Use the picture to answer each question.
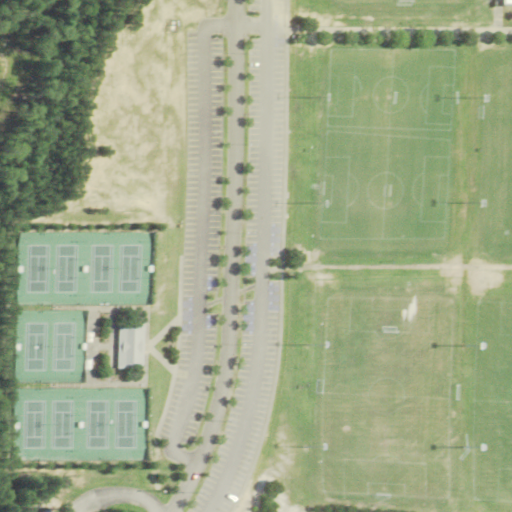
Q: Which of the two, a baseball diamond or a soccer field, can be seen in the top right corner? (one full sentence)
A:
It is a soccer field that can be seen in the top right corner.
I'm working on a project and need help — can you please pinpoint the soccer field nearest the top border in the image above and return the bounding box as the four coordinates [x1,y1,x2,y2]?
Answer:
[328,48,456,132]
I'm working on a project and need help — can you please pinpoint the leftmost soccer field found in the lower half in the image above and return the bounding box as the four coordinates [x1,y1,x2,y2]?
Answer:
[323,296,455,499]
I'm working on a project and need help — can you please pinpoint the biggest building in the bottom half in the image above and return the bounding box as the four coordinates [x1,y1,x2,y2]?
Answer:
[118,328,146,370]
